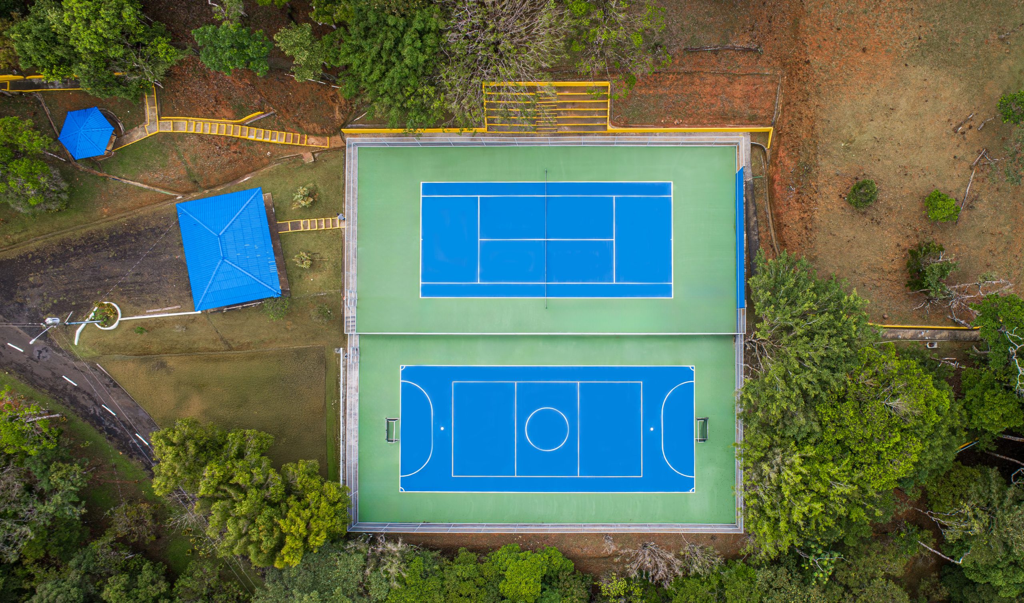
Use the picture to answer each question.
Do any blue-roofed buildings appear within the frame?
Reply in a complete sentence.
Yes, the picture does show a blue-roofed building.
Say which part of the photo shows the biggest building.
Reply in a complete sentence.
The biggest building appears toward the left of the photo.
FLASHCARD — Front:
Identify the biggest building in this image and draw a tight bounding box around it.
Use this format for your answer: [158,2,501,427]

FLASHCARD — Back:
[175,187,291,313]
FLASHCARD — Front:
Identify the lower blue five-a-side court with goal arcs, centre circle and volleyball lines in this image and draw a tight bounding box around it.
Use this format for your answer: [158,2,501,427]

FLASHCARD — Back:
[358,335,735,523]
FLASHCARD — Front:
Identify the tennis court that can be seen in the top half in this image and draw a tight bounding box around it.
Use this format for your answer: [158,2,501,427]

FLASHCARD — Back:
[357,146,737,333]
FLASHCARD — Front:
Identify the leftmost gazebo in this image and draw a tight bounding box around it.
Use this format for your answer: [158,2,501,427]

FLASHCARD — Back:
[57,106,128,162]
